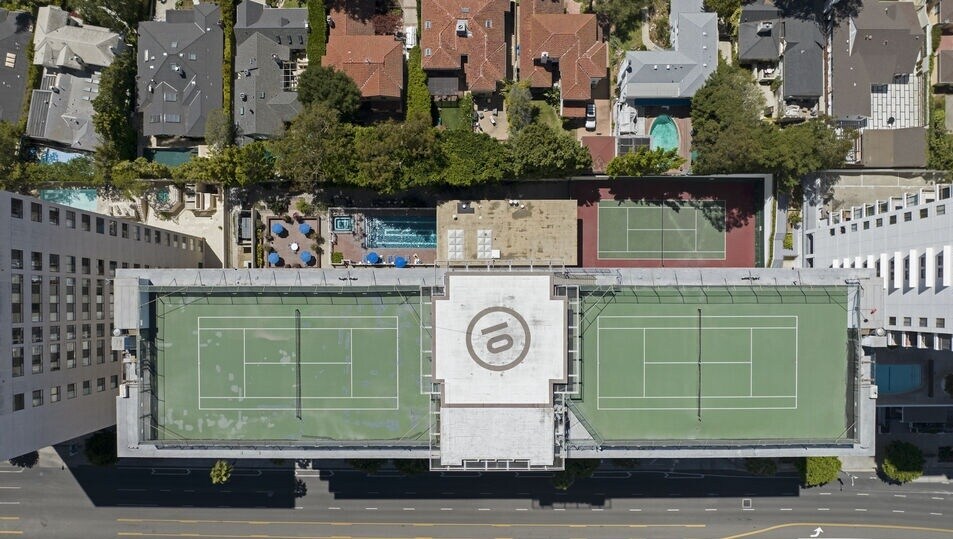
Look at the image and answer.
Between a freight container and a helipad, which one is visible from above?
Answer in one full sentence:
I can see a helipad in this picture.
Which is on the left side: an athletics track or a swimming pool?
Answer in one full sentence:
Visible on the left side is a swimming pool.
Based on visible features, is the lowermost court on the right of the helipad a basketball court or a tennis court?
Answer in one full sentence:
In the photo, the lowermost court on the right of the helipad shows up as a tennis court.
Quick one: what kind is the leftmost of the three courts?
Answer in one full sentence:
The leftmost of the three courts can be classified as a tennis court.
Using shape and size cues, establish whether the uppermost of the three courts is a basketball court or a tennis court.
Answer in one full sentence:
I'd identify the uppermost of the three courts as a tennis court.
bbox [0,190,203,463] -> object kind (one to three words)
building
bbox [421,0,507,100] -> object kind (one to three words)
house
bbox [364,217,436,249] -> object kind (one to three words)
swimming pool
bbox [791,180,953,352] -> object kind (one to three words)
building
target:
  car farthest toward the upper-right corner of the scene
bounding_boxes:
[584,104,597,131]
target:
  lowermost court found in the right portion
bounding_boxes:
[567,286,848,441]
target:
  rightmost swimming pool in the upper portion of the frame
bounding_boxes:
[649,112,681,152]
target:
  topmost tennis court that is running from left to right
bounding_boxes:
[577,183,756,267]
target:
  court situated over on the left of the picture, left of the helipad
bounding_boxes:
[148,289,433,441]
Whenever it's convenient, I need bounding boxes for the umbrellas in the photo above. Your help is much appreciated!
[394,256,407,267]
[367,251,380,264]
[273,223,284,235]
[300,223,311,235]
[268,252,280,264]
[301,250,312,263]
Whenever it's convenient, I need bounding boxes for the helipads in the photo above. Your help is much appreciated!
[432,273,568,408]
